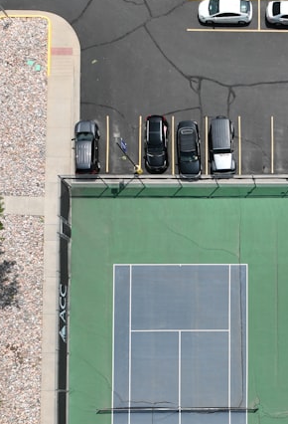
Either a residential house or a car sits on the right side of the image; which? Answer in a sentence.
What appears on the right side of the image is a car.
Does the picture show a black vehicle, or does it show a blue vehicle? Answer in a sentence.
Visible in the photo is a black vehicle.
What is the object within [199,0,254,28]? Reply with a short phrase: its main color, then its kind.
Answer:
white car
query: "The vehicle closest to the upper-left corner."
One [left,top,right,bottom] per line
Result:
[71,121,103,179]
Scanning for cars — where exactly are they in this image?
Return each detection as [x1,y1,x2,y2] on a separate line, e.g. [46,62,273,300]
[174,123,202,179]
[199,0,254,28]
[264,2,288,29]
[207,116,237,177]
[71,121,103,179]
[140,116,170,175]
